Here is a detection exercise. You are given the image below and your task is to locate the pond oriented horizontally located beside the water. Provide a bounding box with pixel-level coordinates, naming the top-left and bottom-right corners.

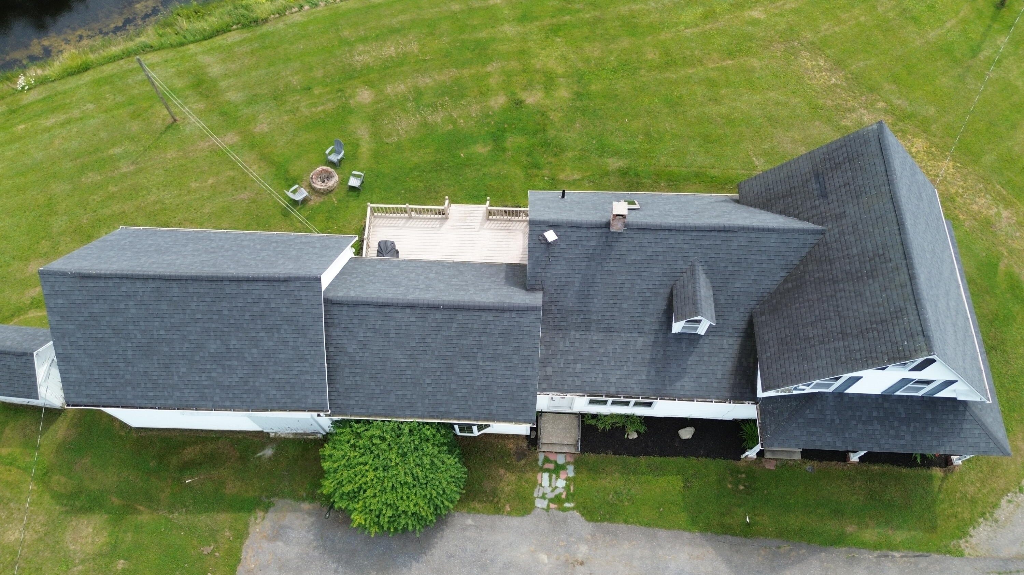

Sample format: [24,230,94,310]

[0,0,209,77]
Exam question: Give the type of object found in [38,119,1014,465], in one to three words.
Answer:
house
